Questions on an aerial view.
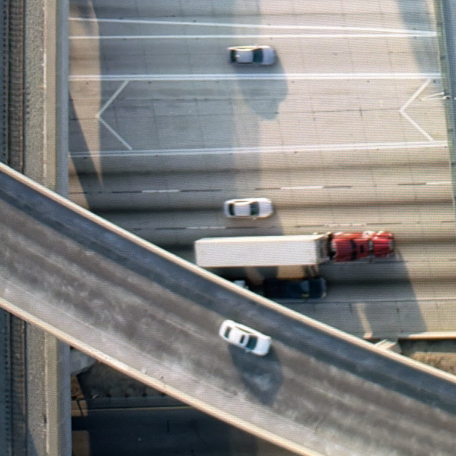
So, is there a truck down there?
Yes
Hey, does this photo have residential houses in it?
No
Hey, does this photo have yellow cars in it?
No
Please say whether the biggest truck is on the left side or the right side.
right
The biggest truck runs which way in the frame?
from side to side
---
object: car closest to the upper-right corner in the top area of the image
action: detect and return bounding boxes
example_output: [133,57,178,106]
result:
[226,45,278,67]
